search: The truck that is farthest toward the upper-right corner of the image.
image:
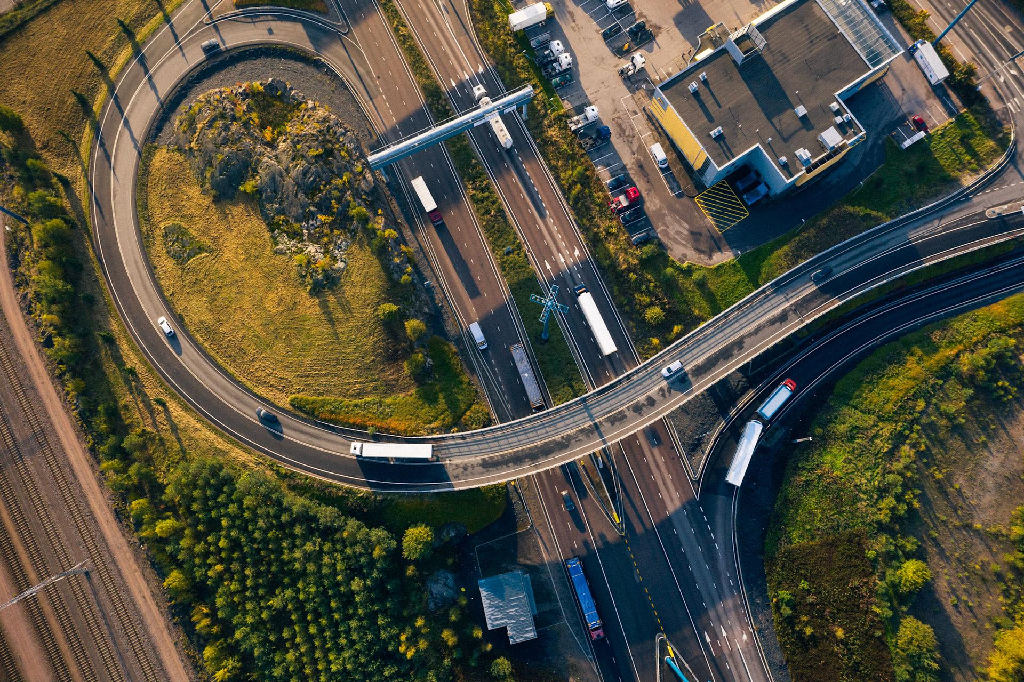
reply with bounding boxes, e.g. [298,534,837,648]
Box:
[902,44,948,90]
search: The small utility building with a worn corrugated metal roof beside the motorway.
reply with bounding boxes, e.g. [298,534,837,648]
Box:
[477,570,538,644]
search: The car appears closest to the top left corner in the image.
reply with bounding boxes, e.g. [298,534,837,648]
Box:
[201,41,222,54]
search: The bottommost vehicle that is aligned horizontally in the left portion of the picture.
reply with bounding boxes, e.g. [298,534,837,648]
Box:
[352,442,435,458]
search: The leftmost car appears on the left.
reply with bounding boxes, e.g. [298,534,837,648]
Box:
[160,317,176,337]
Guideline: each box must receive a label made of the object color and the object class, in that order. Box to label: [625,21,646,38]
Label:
black car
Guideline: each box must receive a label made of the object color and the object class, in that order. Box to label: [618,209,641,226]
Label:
black car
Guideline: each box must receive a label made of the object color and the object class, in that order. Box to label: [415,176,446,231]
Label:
white truck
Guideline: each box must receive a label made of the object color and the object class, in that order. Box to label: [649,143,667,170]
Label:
white vehicle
